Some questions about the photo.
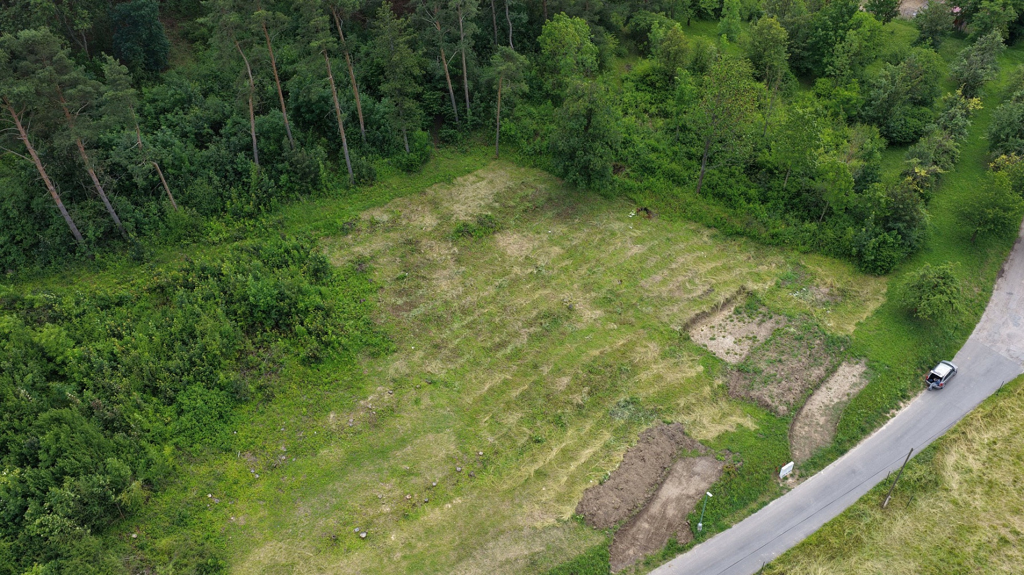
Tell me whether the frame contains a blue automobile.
No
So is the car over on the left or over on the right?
right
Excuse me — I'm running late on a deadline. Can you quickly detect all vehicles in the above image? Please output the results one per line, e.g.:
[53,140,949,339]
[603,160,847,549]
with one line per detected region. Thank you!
[926,363,958,391]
